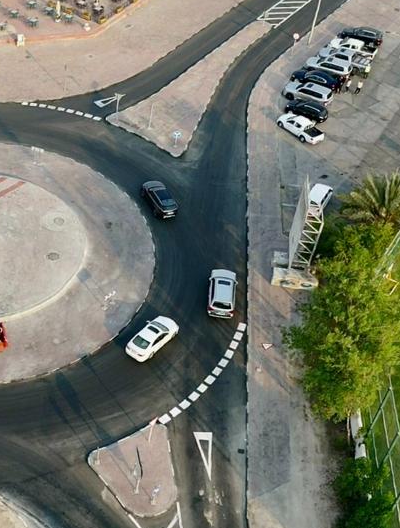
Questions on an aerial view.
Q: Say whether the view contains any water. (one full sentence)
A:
No, water can't be seen anywhere here.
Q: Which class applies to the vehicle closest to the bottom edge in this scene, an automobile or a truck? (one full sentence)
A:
Looking closely, the vehicle closest to the bottom edge is an automobile.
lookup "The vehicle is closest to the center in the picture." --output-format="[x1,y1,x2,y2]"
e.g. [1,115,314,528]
[206,268,240,320]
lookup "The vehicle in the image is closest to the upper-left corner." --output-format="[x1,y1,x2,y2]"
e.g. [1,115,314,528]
[142,182,177,219]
